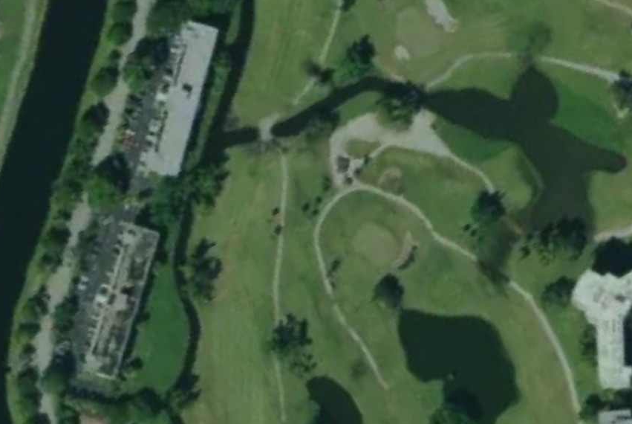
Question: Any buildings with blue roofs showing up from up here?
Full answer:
No, there isn't any building with a blue roof down there.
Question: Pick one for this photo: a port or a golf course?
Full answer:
This image shows a golf course.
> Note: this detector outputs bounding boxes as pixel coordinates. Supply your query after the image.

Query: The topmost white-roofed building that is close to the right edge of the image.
[569,261,632,388]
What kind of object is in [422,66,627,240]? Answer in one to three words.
pond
